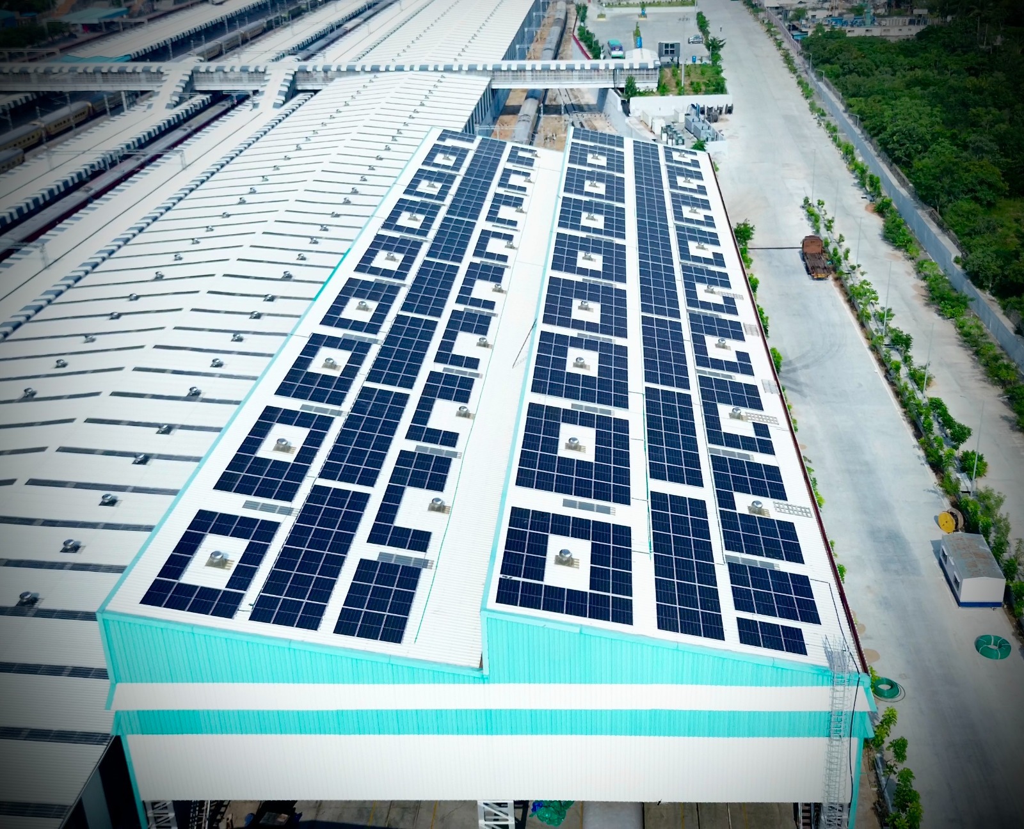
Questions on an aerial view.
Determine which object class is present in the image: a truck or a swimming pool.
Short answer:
truck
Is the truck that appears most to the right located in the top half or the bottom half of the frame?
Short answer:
top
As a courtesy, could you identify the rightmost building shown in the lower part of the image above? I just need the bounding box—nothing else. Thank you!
[938,531,1010,608]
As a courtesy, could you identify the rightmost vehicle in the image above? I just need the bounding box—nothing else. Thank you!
[797,237,832,277]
